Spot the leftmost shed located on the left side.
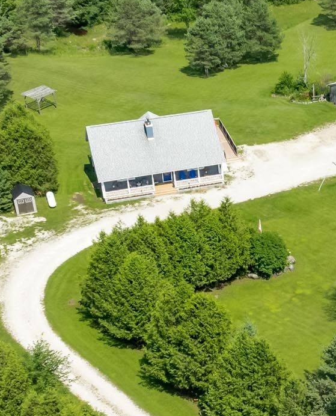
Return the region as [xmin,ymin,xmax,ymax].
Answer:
[11,179,38,216]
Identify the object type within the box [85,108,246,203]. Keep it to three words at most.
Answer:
house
